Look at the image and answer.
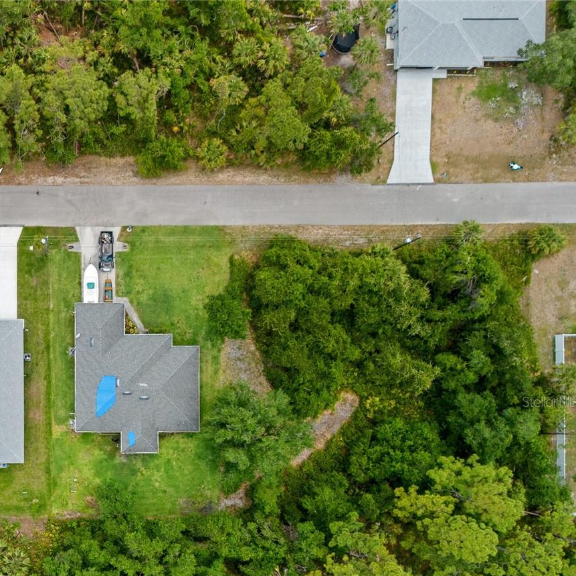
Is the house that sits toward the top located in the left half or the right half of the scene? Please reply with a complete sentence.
The house that sits toward the top sits on the right side.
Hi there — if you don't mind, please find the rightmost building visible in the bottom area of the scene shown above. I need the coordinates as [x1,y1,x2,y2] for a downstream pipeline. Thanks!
[74,302,200,454]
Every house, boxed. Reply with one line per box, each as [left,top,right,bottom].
[0,319,25,464]
[392,0,546,73]
[74,302,200,454]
